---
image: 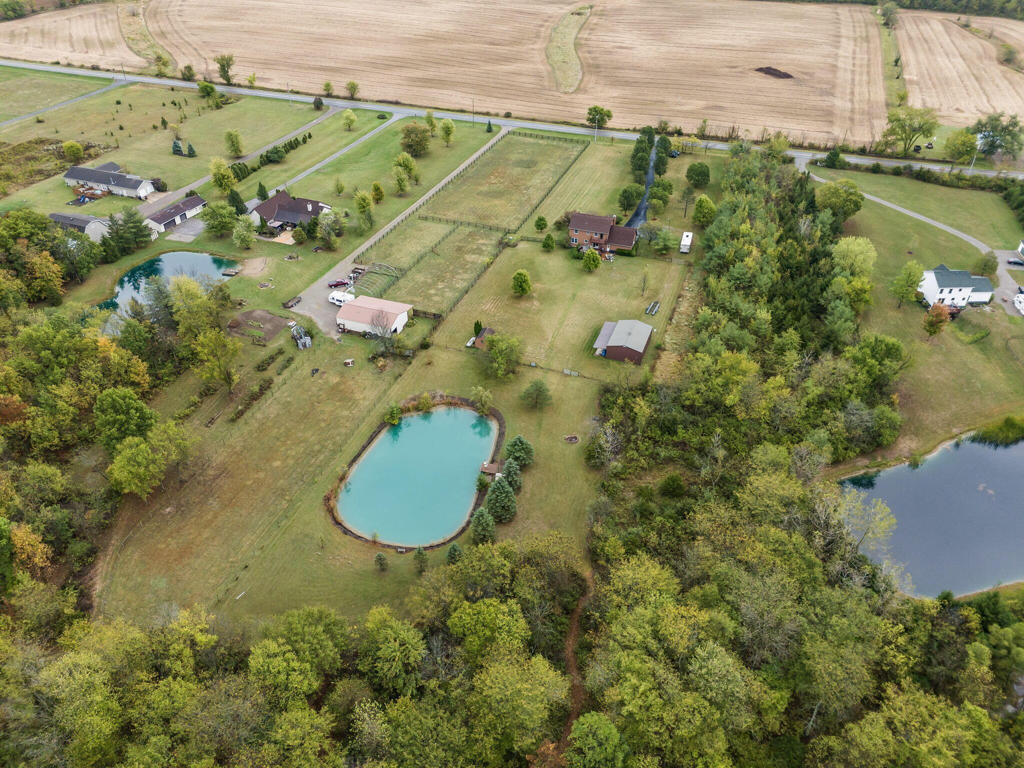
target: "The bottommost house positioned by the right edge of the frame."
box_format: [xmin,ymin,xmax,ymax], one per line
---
[919,260,994,306]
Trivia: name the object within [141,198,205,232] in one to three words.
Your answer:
building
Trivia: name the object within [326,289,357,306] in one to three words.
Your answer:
vehicle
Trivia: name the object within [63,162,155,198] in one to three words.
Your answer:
house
